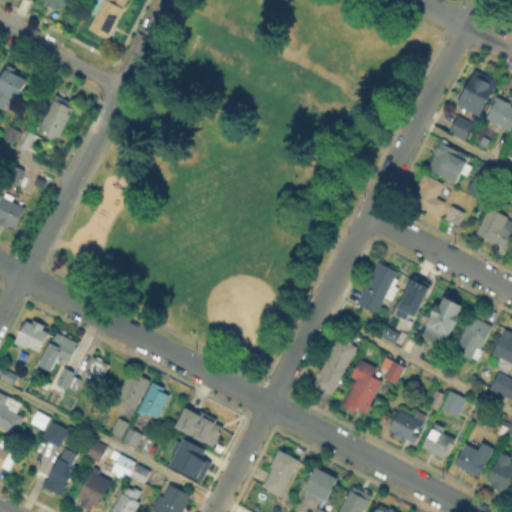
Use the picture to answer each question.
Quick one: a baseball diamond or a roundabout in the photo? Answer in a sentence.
It is a baseball diamond that can be seen here.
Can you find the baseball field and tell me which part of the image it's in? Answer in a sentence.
The baseball field is in the center part of the image.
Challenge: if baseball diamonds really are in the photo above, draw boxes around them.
[139,224,289,360]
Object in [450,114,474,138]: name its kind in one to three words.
building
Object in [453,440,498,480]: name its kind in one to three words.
house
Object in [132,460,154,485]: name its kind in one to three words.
building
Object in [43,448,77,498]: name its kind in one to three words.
house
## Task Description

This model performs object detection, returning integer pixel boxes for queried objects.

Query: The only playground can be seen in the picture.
[62,176,127,261]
